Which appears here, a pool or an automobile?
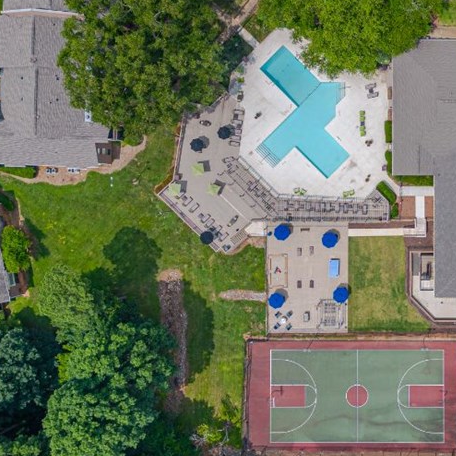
pool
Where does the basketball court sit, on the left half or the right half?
right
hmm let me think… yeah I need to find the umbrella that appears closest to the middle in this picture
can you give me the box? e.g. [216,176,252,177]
[200,231,214,244]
